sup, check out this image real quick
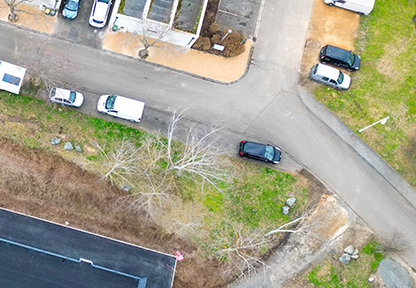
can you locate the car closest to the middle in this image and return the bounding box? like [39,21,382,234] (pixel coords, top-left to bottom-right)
[241,142,283,166]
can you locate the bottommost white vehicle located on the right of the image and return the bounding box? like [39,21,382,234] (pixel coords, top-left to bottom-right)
[312,64,353,90]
